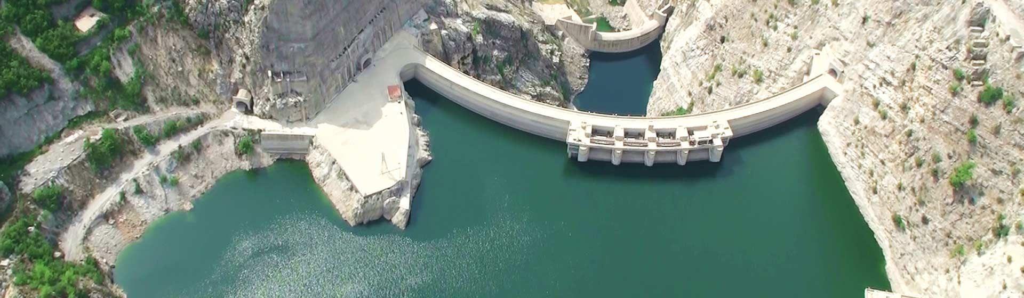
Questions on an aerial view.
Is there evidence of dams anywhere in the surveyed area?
Yes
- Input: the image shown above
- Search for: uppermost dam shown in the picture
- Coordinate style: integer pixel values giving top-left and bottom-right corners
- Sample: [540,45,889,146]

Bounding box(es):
[563,0,673,56]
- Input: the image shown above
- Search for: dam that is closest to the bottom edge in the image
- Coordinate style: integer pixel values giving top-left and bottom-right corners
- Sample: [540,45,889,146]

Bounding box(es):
[398,38,844,167]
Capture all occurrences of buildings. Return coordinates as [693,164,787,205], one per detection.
[387,85,401,100]
[74,8,107,38]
